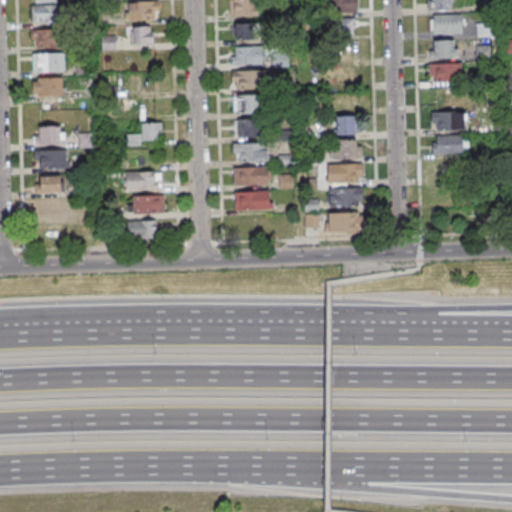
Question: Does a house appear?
Yes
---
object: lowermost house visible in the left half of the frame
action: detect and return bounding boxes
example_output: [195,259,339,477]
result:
[128,220,157,241]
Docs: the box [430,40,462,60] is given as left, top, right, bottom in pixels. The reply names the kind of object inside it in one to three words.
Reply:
house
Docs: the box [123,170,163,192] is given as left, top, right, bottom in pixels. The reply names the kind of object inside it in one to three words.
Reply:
house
